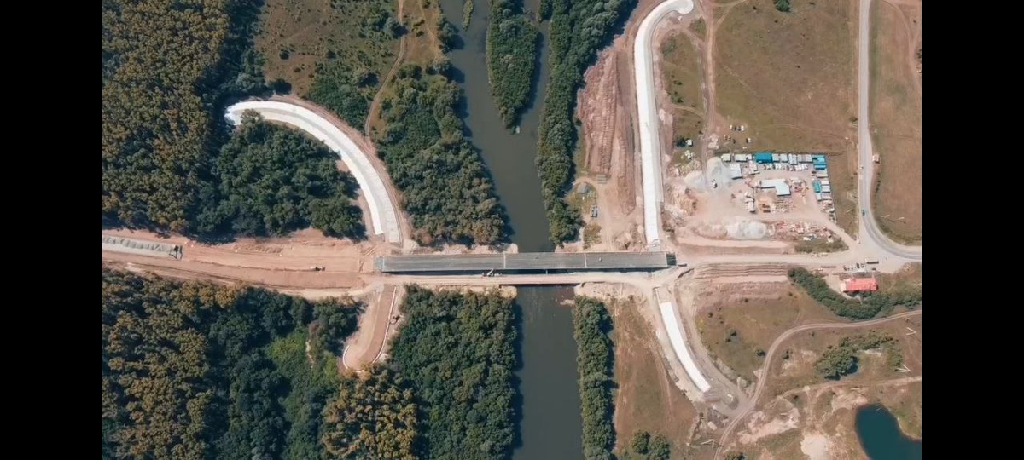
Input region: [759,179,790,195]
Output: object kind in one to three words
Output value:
building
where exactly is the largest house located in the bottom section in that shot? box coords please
[841,278,881,292]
